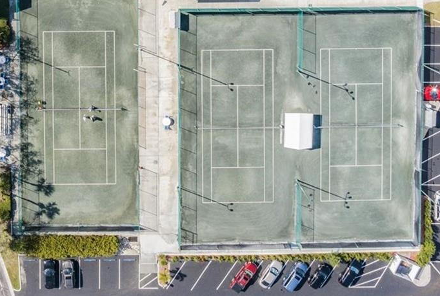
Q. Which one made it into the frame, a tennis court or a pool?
tennis court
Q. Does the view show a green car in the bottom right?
No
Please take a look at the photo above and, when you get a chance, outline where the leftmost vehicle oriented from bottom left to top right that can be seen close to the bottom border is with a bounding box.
[229,261,255,294]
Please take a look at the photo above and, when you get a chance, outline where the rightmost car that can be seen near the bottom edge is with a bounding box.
[338,257,364,289]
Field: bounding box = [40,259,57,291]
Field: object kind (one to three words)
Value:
car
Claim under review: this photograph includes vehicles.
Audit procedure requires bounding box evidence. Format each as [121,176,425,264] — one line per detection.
[229,261,255,294]
[434,190,440,222]
[257,261,283,291]
[425,86,440,102]
[40,259,57,291]
[338,257,364,289]
[308,261,332,290]
[61,259,75,291]
[282,261,308,294]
